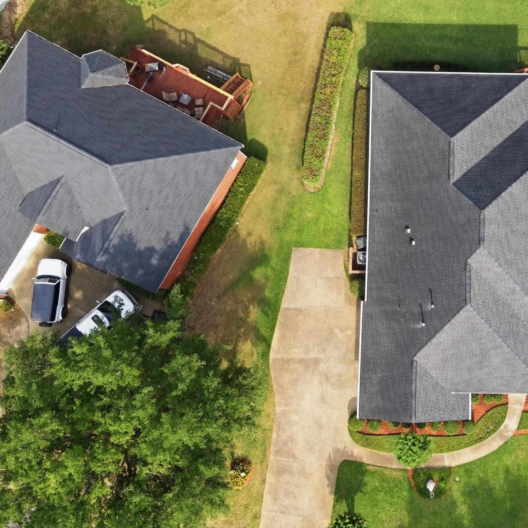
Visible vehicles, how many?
2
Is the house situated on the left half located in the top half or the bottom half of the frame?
top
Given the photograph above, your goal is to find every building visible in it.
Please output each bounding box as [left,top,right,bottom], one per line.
[356,70,528,423]
[0,30,252,297]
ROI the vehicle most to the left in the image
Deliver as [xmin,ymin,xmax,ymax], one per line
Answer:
[32,254,73,324]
